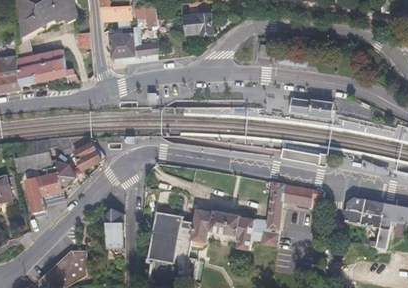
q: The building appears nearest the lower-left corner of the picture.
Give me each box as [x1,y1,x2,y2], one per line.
[58,250,90,288]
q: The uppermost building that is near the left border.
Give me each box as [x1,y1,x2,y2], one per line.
[18,0,79,38]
